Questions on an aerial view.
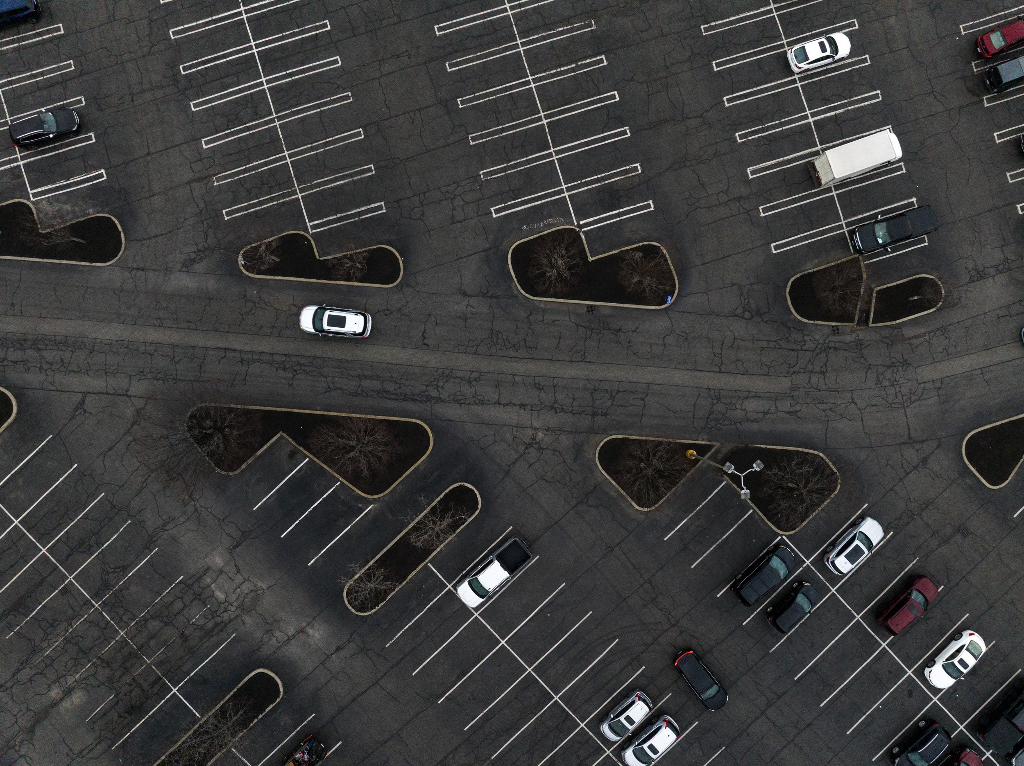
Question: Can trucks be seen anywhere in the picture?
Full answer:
Yes, you can see a truck in this photo.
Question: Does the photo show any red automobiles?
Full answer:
Yes, you can see a red automobile in this photo.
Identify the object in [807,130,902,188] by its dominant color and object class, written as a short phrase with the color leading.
white truck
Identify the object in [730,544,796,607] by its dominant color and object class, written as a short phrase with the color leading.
black car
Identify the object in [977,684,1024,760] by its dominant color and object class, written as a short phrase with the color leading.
black truck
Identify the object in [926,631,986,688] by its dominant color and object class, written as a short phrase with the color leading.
white car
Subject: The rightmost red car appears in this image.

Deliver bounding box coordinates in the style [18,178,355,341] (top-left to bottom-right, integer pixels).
[973,17,1024,59]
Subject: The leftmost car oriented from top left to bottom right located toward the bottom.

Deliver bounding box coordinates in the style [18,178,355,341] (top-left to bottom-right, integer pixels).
[674,649,726,711]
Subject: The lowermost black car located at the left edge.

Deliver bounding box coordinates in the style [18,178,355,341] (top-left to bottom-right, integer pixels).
[8,107,84,150]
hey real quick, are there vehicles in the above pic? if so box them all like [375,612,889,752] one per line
[730,544,796,607]
[8,107,84,150]
[936,745,979,766]
[786,33,850,75]
[674,649,726,711]
[982,55,1024,94]
[0,0,45,33]
[926,631,986,688]
[875,575,938,637]
[973,17,1024,59]
[822,518,884,576]
[807,130,902,188]
[621,714,681,766]
[766,581,820,634]
[977,684,1024,760]
[889,719,954,766]
[459,535,534,608]
[300,303,372,338]
[600,688,654,743]
[852,204,944,253]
